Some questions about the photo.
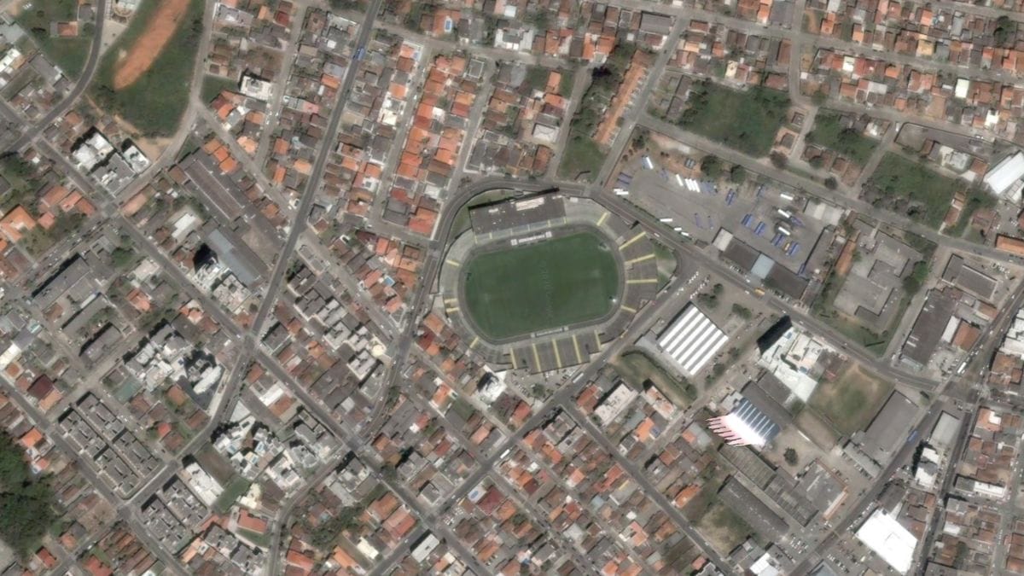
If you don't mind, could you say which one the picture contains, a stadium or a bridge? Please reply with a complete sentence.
It is a stadium that can be seen here.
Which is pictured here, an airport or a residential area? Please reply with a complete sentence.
The picture captures a residential area.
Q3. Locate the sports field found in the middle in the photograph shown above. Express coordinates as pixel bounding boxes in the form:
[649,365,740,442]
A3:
[464,228,620,339]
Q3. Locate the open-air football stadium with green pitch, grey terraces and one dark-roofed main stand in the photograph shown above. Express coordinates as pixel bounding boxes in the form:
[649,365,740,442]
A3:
[425,186,671,376]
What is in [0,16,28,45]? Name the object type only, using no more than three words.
house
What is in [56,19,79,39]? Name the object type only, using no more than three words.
house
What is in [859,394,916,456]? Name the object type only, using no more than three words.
building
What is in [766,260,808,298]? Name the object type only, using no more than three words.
shed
